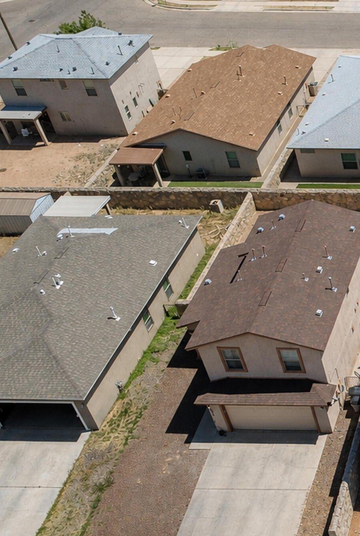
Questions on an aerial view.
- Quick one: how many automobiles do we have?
0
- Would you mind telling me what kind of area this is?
residential area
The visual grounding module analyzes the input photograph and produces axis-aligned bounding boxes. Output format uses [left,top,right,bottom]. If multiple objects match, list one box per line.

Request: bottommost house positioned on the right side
[178,199,360,433]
